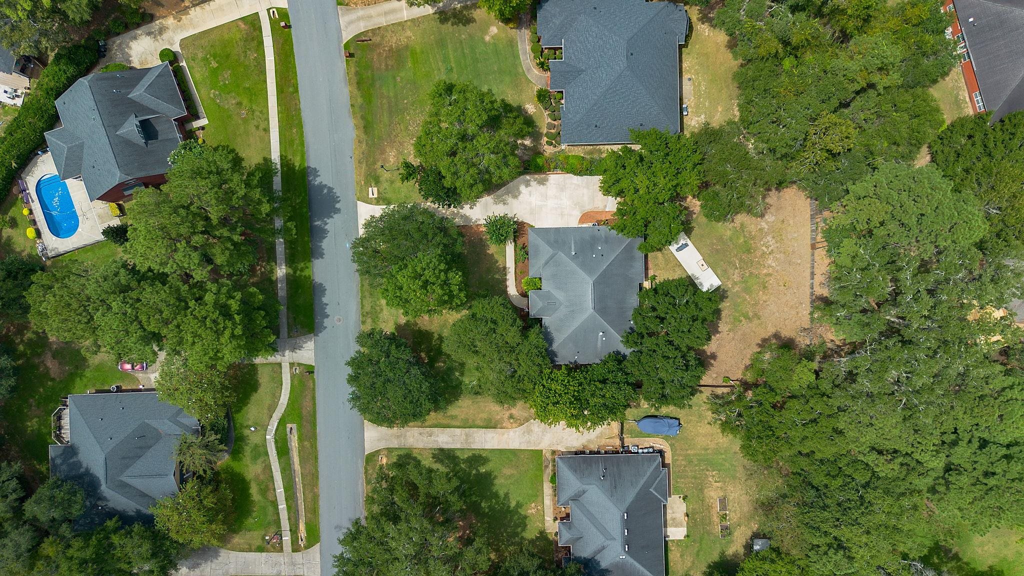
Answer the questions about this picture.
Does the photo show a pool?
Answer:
Yes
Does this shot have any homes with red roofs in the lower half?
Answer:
No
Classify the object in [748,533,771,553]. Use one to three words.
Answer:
shed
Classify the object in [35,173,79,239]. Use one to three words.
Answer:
swimming pool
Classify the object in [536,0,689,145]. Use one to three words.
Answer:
house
